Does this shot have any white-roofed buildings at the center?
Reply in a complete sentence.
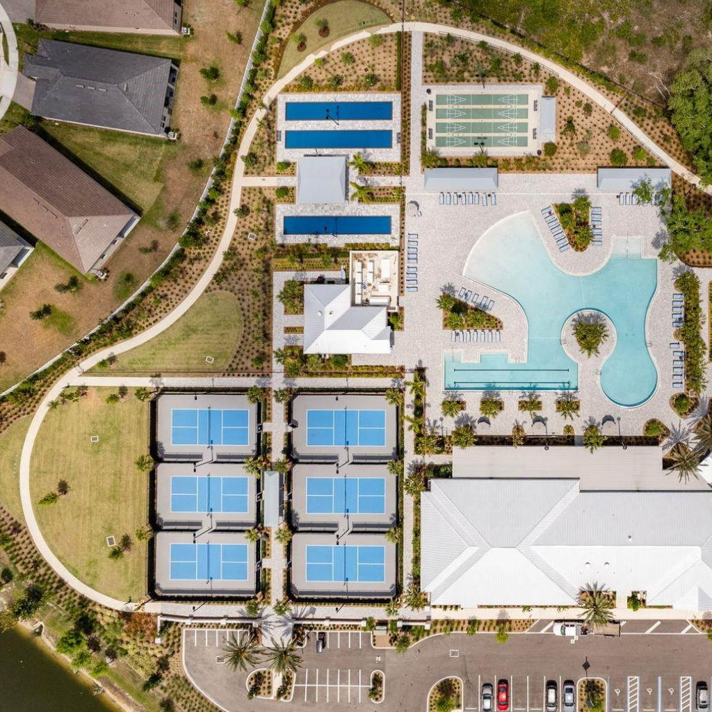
Yes, looking at the center, one can make out a white-roofed building.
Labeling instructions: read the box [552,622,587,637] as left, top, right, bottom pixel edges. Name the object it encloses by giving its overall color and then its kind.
white vehicle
